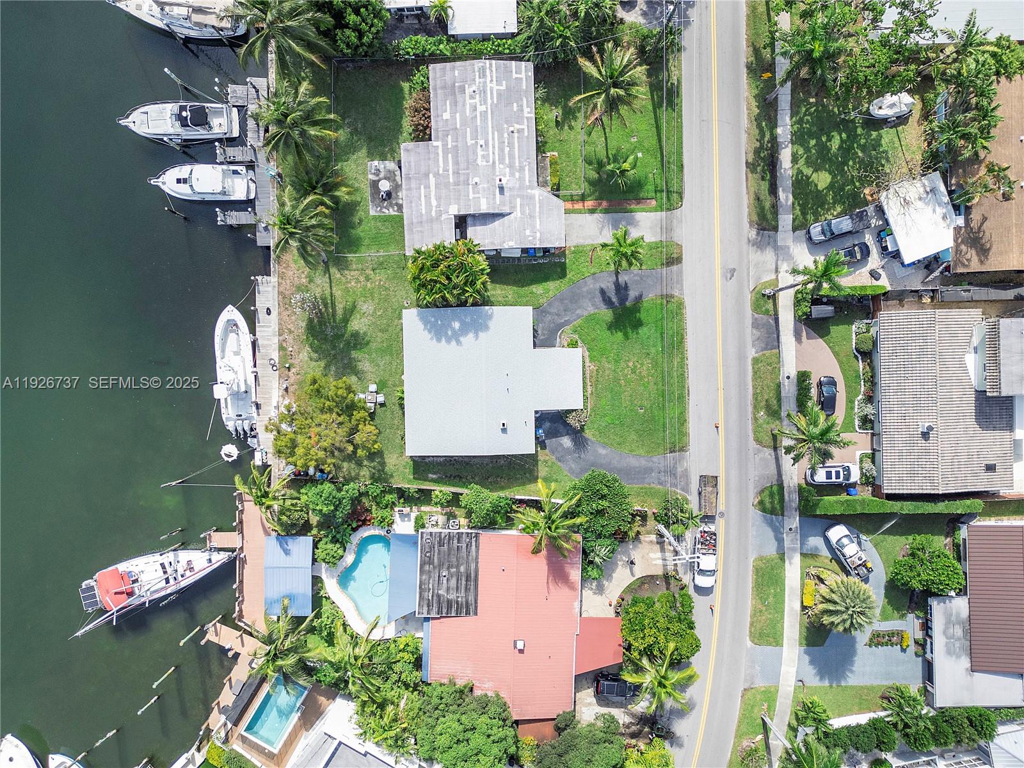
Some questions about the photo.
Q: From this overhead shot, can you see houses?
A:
Yes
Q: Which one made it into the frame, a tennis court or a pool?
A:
pool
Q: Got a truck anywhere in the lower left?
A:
No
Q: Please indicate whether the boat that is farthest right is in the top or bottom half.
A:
top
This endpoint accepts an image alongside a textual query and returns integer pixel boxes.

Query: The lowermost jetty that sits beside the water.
[209,619,265,734]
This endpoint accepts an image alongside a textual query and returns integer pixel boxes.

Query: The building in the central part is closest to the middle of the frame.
[402,305,584,457]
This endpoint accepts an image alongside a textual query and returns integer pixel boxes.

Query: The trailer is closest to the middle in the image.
[695,475,722,526]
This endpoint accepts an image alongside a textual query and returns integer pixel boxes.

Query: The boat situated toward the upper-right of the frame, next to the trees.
[850,89,915,124]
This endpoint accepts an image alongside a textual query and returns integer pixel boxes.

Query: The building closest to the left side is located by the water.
[259,536,313,618]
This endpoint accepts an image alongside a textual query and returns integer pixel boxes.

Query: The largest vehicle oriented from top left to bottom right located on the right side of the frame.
[829,522,877,582]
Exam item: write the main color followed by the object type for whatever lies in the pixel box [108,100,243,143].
white boat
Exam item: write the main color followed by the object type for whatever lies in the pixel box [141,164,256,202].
white boat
